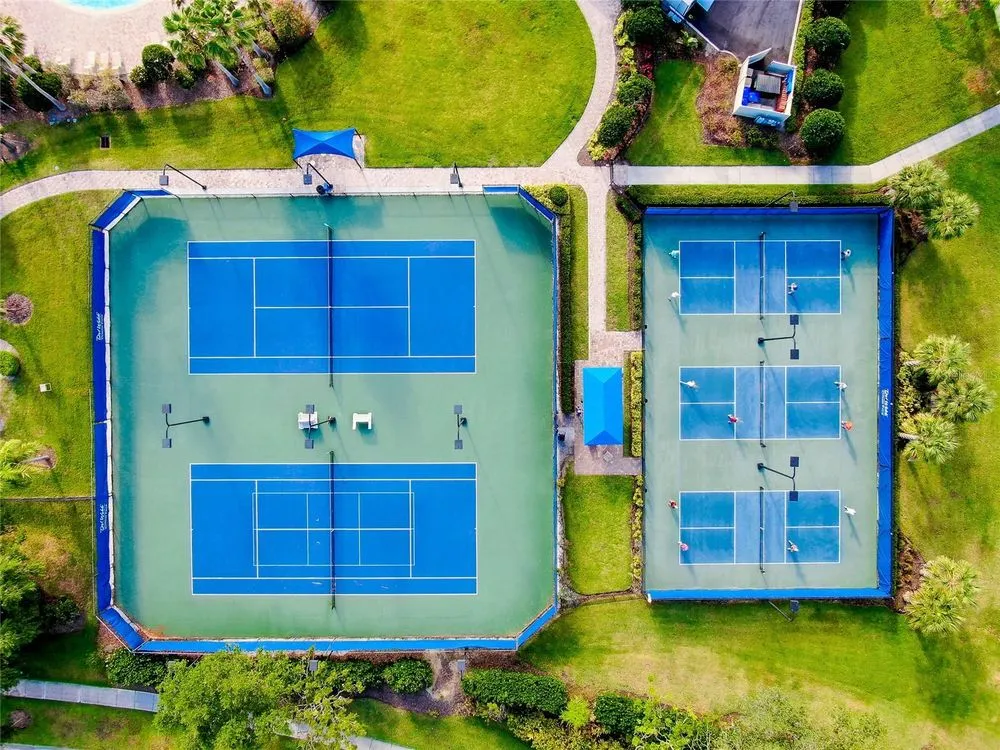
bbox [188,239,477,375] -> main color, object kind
blue tennis court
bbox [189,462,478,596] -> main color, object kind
blue tennis court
